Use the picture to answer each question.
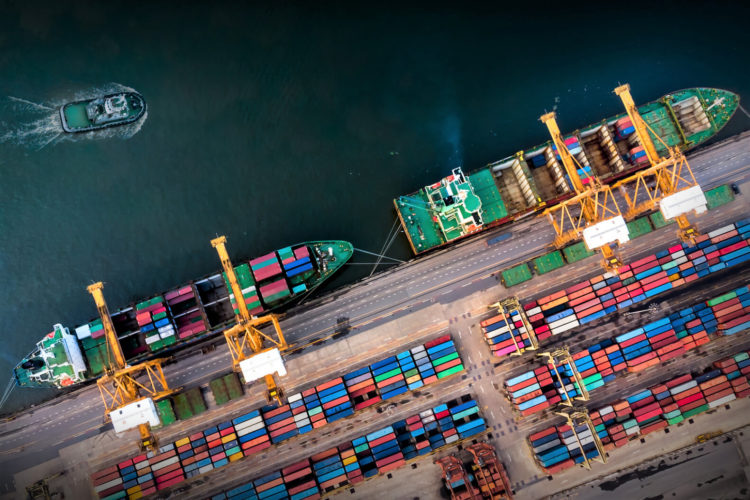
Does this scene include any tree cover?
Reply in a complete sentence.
No, there's no tree cover in this view.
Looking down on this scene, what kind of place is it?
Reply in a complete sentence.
What you see here is a port.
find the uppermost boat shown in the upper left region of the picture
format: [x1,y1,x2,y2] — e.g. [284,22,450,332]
[61,94,146,132]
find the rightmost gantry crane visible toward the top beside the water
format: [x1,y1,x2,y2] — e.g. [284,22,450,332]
[612,83,709,245]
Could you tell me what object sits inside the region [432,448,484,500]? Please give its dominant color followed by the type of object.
red container crane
